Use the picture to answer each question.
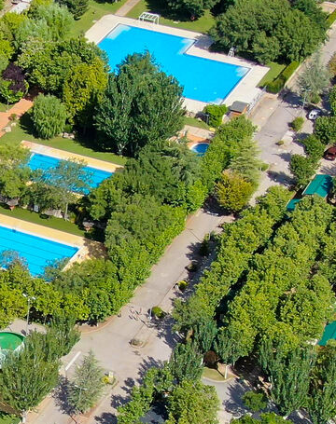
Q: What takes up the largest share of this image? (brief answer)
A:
trees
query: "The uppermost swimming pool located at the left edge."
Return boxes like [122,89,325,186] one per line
[4,151,114,197]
